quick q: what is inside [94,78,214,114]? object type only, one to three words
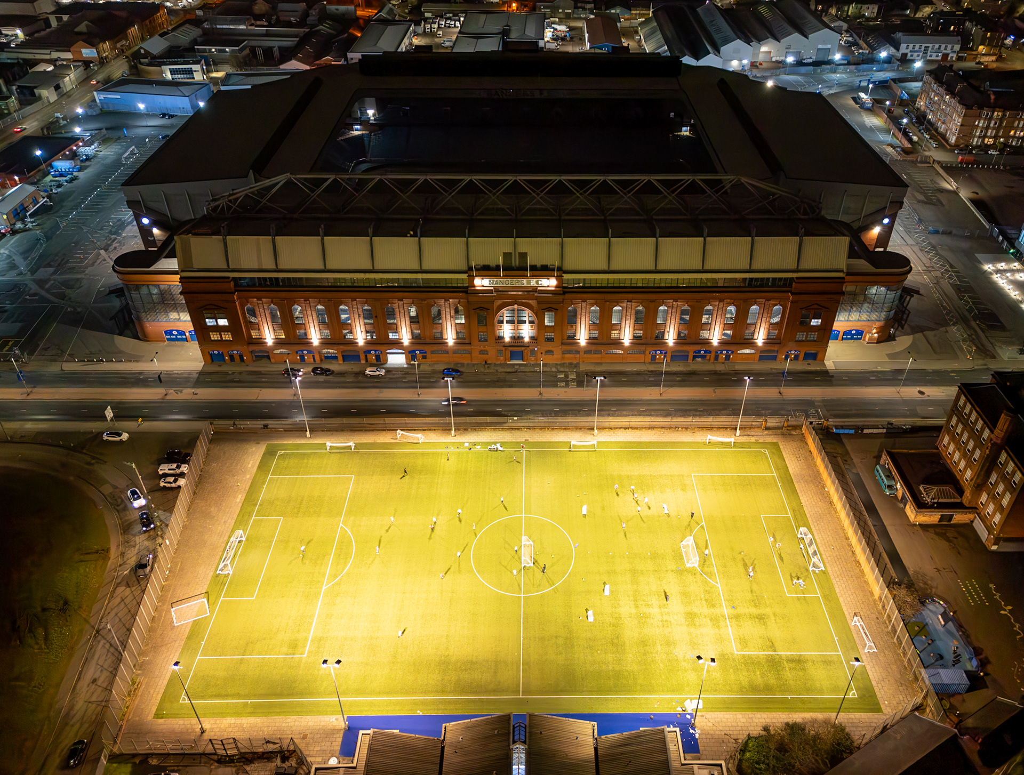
building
